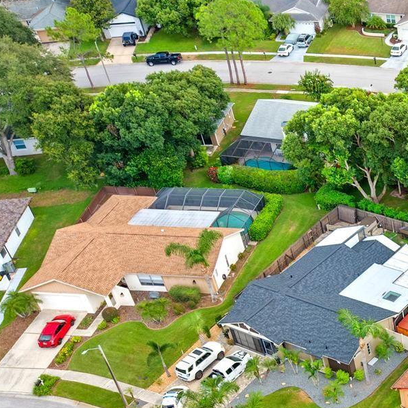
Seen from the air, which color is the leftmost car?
red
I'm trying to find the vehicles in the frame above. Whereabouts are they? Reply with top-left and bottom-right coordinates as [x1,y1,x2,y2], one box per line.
[153,380,192,408]
[120,30,136,43]
[391,45,405,56]
[170,341,224,380]
[198,343,258,388]
[146,50,181,65]
[35,315,72,348]
[296,33,311,47]
[277,46,291,56]
[284,35,298,46]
